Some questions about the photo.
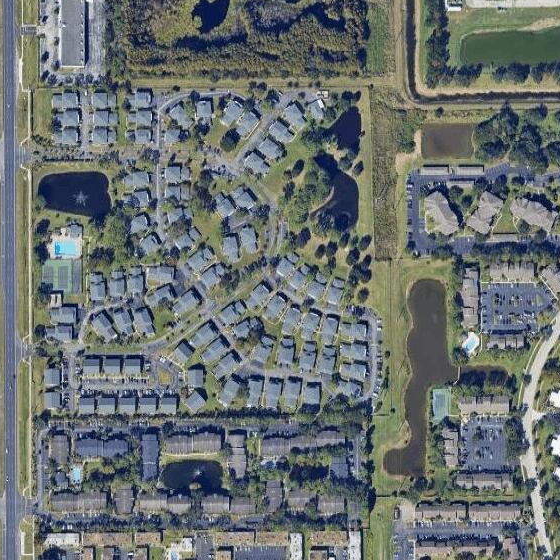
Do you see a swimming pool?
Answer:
Yes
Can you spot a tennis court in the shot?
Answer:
Yes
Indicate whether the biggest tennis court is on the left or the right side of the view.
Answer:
left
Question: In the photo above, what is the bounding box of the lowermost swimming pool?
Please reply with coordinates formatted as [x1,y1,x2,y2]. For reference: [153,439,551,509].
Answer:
[165,544,193,560]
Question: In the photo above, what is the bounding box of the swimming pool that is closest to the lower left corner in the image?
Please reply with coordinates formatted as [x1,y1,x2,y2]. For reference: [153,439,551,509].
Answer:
[68,462,83,485]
